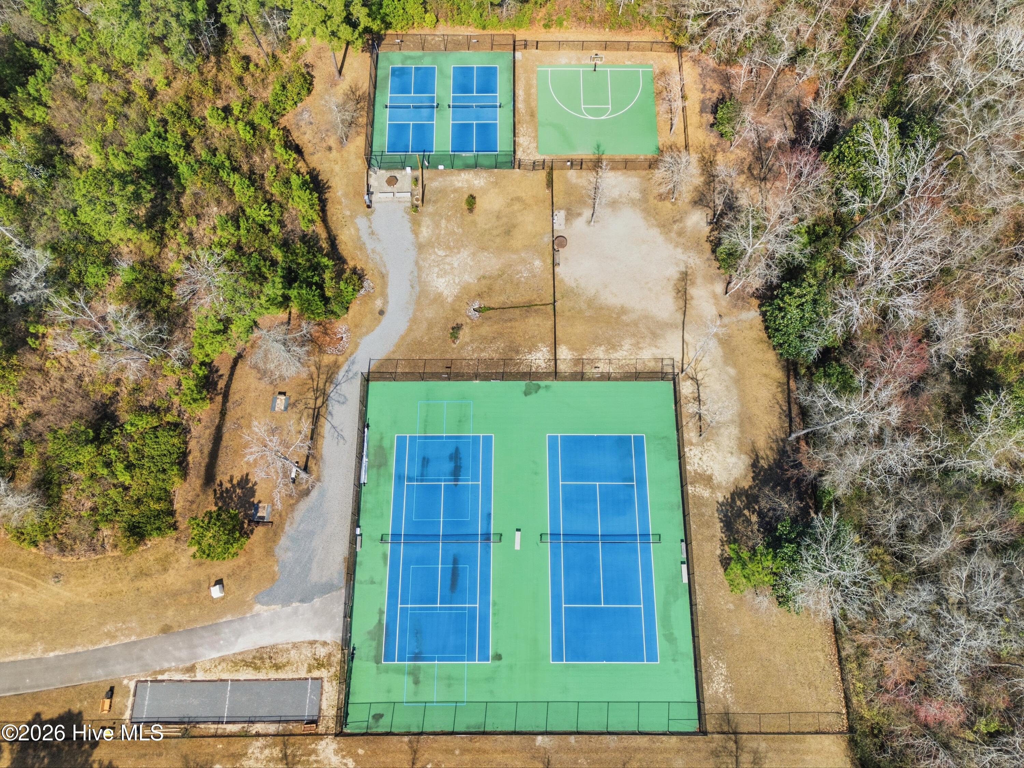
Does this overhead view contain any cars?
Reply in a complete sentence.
No, no car is visible in the scene.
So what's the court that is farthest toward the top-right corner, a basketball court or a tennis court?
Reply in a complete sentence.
I'd identify the court that is farthest toward the top-right corner as a basketball court.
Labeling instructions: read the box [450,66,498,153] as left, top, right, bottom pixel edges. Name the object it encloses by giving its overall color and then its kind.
blue sports court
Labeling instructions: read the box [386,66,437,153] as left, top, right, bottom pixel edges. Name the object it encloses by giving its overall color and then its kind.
blue sports court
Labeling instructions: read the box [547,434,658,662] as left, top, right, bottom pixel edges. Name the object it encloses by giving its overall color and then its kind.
blue tennis court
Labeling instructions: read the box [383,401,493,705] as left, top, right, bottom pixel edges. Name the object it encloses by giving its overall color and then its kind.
blue tennis court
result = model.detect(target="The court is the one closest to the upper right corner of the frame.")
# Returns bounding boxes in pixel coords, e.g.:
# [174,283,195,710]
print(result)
[537,64,659,154]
